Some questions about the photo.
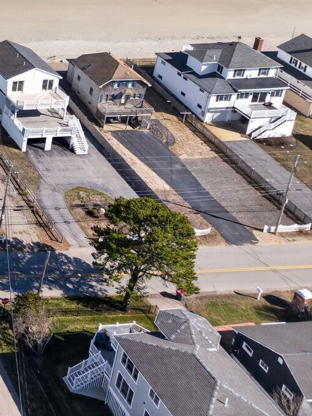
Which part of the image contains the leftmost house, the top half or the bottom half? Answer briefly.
top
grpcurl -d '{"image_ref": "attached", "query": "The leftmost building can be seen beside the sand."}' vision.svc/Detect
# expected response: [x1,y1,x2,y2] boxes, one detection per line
[0,38,95,157]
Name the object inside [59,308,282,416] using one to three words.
house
